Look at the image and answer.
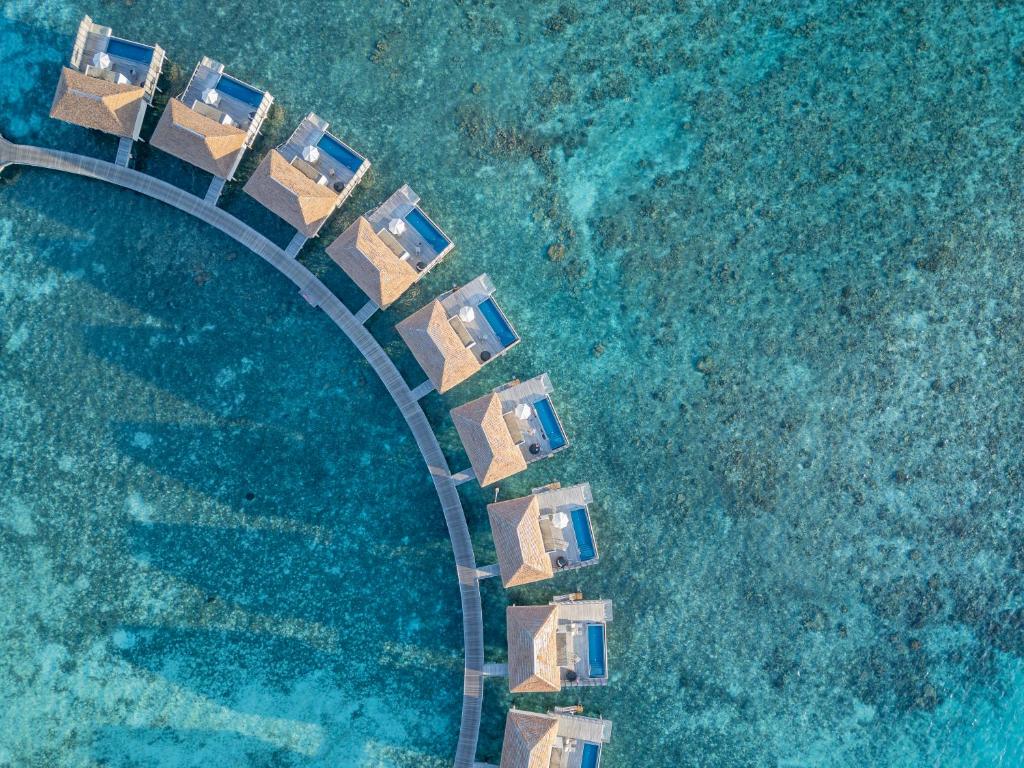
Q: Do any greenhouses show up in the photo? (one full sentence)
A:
No, there's no greenhouse here.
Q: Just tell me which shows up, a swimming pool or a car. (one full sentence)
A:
The one in the frame is a swimming pool.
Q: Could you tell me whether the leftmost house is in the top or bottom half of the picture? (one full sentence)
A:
The leftmost house is in the top half of the image.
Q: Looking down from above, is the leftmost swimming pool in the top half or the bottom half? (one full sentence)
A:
The top half of the photo is where the leftmost swimming pool is.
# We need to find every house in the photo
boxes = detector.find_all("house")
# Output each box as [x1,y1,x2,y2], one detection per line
[396,272,525,395]
[150,55,282,185]
[508,590,615,692]
[501,694,614,768]
[487,481,603,588]
[51,12,177,146]
[326,184,458,311]
[243,111,377,242]
[450,372,574,487]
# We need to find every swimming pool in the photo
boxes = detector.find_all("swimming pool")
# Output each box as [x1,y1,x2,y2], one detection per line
[105,37,165,66]
[215,73,270,114]
[315,131,366,179]
[586,621,606,679]
[578,738,600,768]
[568,504,598,563]
[532,394,570,453]
[476,294,521,350]
[403,206,453,257]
